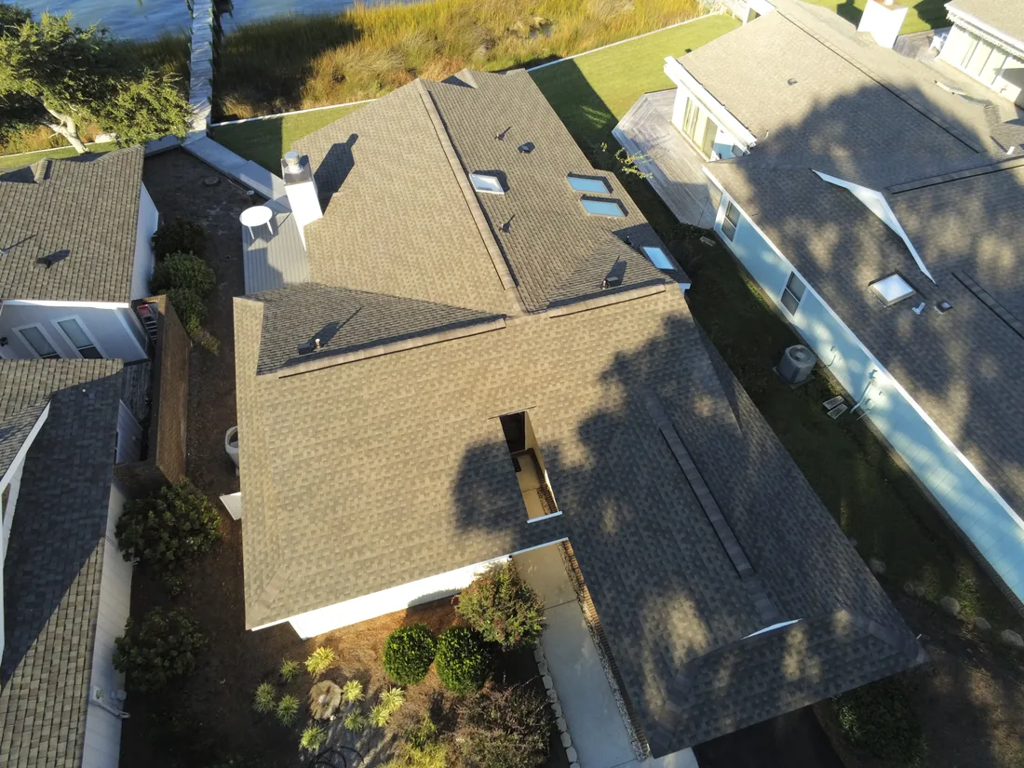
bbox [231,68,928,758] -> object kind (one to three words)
house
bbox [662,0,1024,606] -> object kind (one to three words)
house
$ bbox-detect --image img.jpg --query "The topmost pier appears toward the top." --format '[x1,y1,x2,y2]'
[174,0,220,143]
